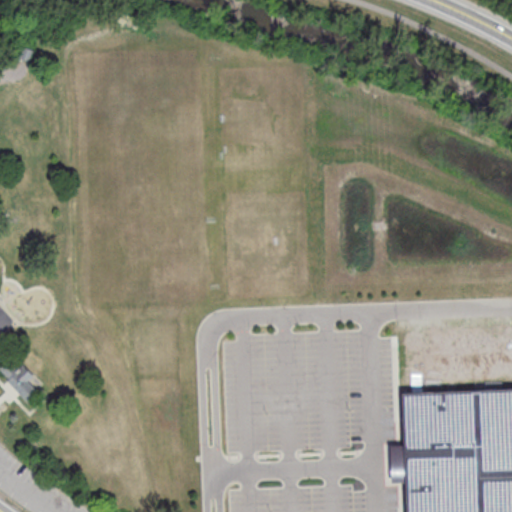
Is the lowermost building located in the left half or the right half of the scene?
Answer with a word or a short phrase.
right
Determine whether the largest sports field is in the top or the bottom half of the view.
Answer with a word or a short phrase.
top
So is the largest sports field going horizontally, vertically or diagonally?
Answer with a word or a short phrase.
vertically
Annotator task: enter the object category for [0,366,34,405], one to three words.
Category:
house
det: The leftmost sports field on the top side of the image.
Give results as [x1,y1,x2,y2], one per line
[77,48,207,305]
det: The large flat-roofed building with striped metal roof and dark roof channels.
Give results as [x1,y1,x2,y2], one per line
[390,390,512,512]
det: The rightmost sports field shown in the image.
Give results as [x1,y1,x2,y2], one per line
[224,64,308,297]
